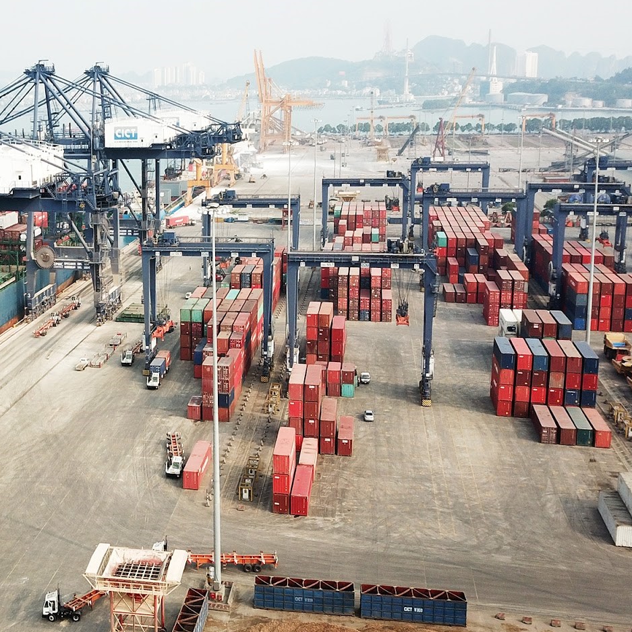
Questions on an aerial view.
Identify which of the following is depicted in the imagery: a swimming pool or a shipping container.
shipping container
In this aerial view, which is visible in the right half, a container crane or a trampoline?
container crane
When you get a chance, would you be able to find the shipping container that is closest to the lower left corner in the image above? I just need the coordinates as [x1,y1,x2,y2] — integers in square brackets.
[183,443,212,491]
